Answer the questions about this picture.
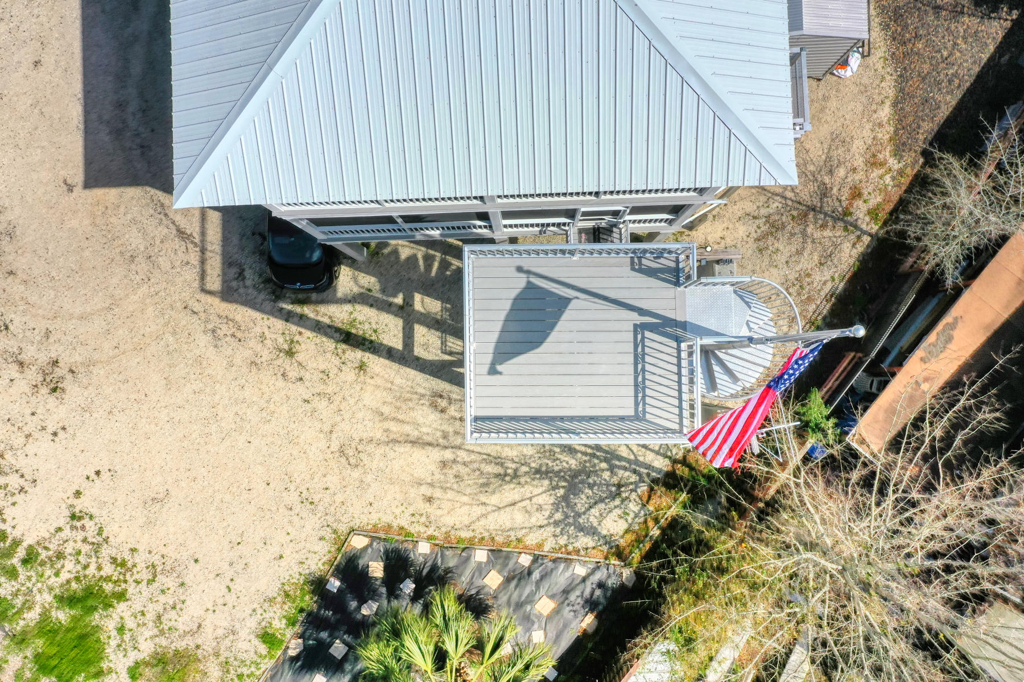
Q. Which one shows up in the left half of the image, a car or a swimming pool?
car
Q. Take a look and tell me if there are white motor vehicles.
No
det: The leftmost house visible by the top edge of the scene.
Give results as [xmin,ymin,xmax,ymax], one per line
[168,0,813,258]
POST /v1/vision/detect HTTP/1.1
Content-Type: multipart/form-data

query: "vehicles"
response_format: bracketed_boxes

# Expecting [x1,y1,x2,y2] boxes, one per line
[266,207,345,293]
